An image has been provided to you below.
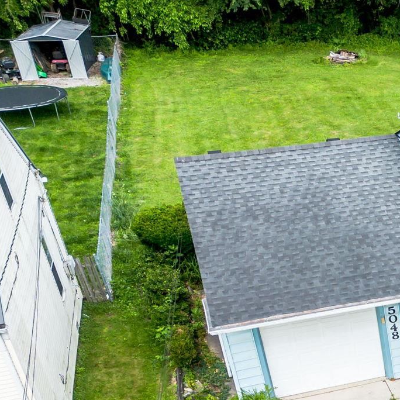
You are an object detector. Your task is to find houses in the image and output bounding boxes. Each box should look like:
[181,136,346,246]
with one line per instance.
[0,89,83,400]
[173,129,400,400]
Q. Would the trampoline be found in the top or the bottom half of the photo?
top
